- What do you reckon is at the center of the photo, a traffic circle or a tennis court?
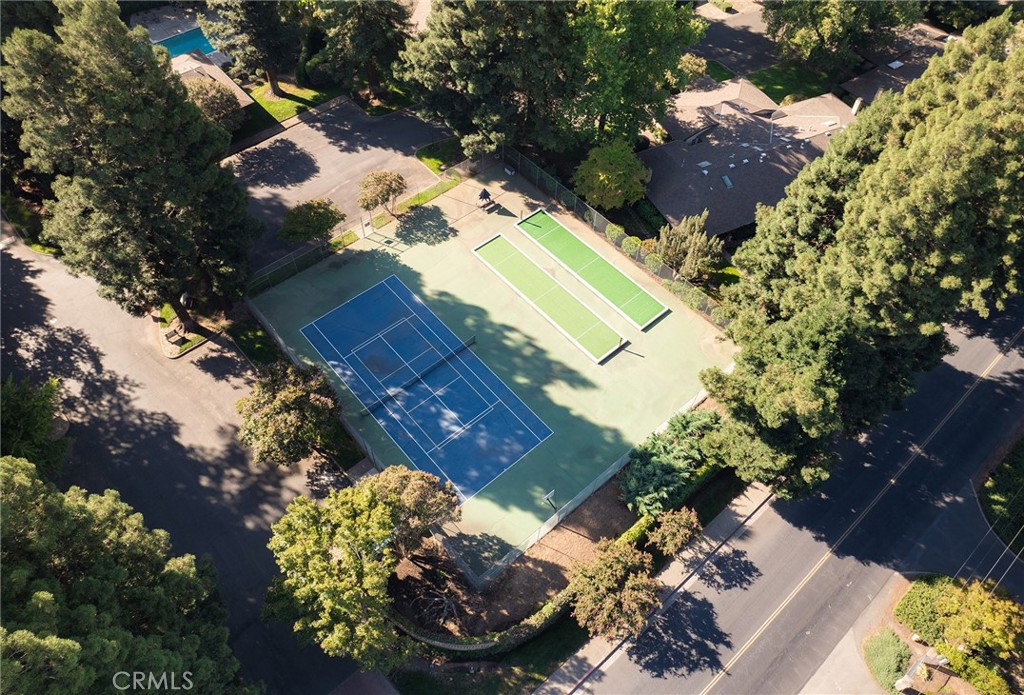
tennis court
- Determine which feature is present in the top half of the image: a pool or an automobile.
pool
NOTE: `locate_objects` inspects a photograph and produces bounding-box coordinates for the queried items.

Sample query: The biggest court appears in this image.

[242,165,730,587]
